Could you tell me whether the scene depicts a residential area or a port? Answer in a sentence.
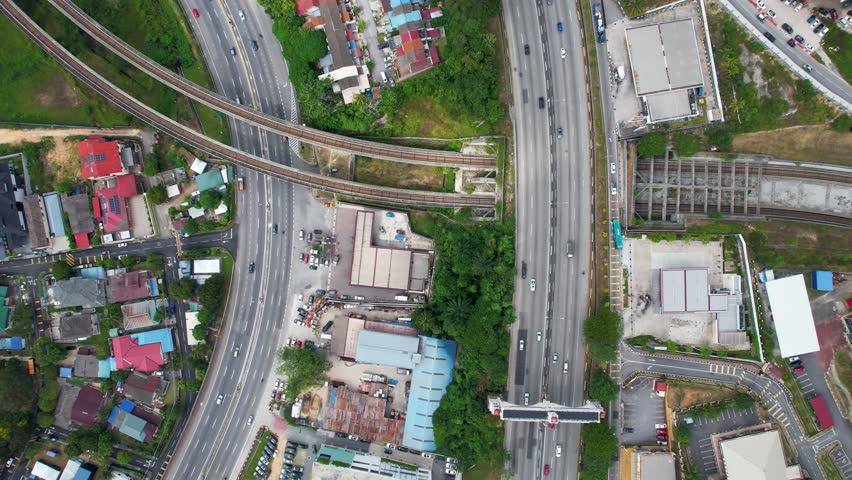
The area seen from above is a residential area.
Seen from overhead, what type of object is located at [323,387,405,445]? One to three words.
shed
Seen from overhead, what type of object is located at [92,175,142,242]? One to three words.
house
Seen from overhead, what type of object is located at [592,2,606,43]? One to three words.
vehicle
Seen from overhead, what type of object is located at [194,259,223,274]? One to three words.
building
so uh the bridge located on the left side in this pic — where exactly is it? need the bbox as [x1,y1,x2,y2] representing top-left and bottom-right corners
[0,0,496,207]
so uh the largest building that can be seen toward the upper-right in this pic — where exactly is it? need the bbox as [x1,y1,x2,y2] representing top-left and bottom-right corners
[622,18,704,99]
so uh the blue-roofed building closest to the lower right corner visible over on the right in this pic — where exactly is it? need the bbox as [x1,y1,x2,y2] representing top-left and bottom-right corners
[807,271,835,291]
